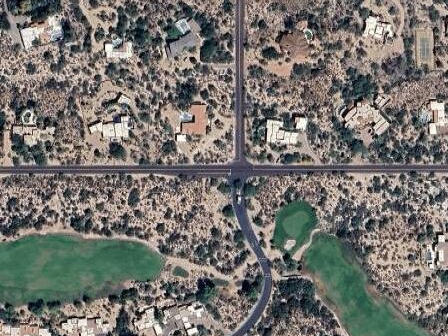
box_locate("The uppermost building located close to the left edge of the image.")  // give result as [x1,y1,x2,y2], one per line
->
[20,14,64,52]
